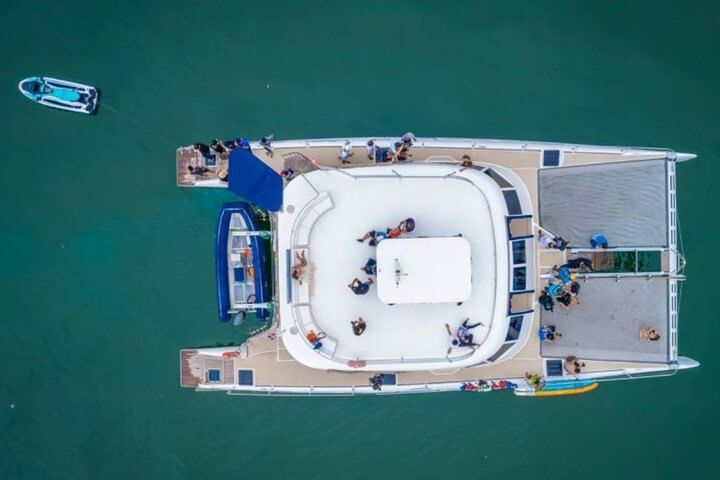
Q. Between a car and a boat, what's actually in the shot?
boat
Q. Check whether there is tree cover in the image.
No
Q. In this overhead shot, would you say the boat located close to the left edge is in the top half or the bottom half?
top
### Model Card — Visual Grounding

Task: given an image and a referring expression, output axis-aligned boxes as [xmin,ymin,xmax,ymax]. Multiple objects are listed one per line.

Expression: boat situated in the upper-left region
[18,79,104,115]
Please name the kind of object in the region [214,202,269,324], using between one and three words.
boat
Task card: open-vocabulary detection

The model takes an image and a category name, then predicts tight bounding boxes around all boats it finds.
[214,202,269,324]
[18,79,104,115]
[176,136,699,397]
